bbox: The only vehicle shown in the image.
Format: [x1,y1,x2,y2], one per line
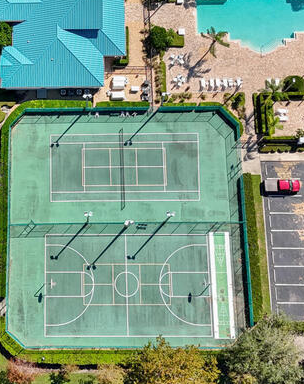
[263,178,300,193]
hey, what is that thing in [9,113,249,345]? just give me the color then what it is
green sports court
